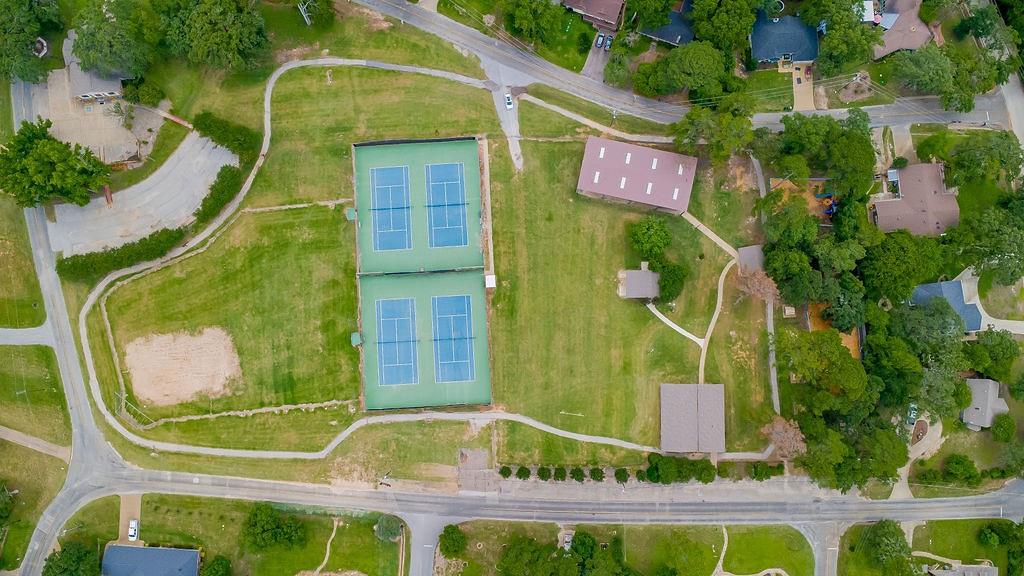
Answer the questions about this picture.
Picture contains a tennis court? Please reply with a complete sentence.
Yes, the picture does show a tennis court.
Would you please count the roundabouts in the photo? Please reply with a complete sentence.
There are no roundabouts in the image.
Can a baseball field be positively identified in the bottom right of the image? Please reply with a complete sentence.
No, there is no baseball field in the bottom right of the image.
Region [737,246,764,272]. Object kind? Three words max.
shed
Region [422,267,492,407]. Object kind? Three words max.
tennis court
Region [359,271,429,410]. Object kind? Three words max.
tennis court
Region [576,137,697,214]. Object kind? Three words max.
building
